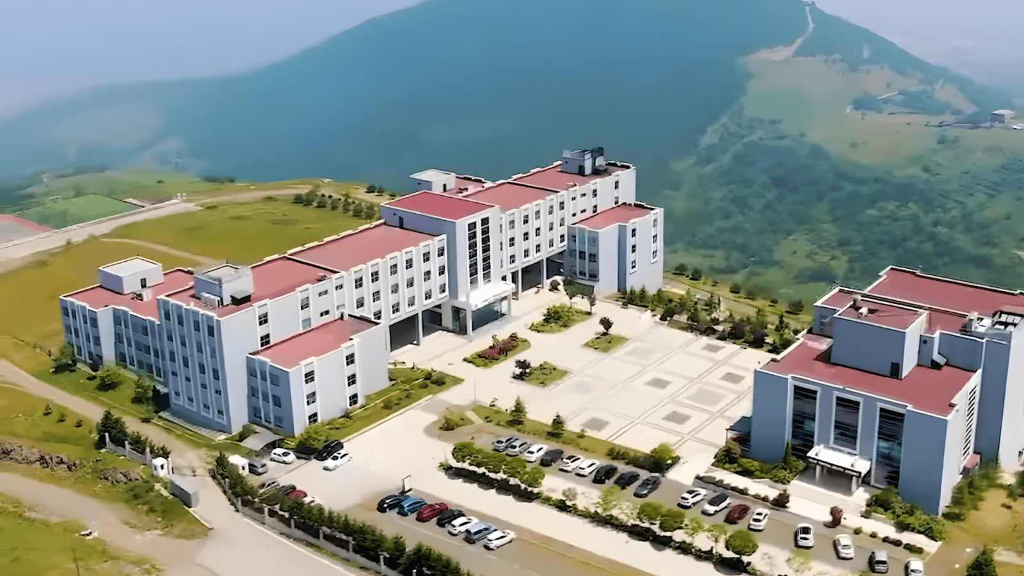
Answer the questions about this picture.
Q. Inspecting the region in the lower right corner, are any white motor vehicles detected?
Yes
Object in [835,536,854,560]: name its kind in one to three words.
car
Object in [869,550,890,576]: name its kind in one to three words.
car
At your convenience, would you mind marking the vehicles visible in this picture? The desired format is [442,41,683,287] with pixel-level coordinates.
[748,509,769,531]
[702,490,729,516]
[521,445,551,463]
[835,536,854,560]
[434,511,468,530]
[488,436,518,454]
[589,465,620,484]
[375,495,410,515]
[904,558,925,576]
[612,471,643,490]
[246,458,275,476]
[502,440,533,458]
[315,442,345,460]
[322,452,353,472]
[634,477,661,498]
[537,449,566,468]
[275,482,305,498]
[481,532,517,553]
[413,503,450,524]
[461,523,500,545]
[869,550,890,576]
[573,460,601,478]
[723,506,751,525]
[446,518,479,538]
[676,488,709,508]
[796,524,814,548]
[558,453,586,473]
[395,499,427,518]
